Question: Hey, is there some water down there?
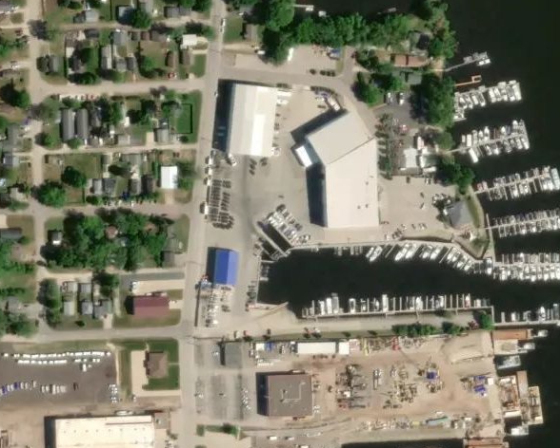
Yes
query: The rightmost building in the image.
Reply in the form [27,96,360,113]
[447,202,473,226]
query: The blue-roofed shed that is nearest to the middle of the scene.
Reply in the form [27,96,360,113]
[213,250,239,285]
